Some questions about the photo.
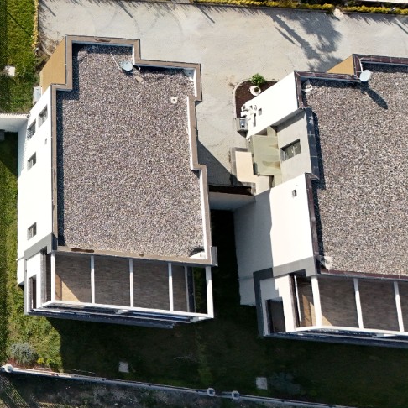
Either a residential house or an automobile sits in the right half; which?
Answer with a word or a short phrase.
residential house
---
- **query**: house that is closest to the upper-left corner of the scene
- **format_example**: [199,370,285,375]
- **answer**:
[16,34,218,325]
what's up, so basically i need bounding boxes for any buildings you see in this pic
[227,54,408,347]
[16,34,218,325]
